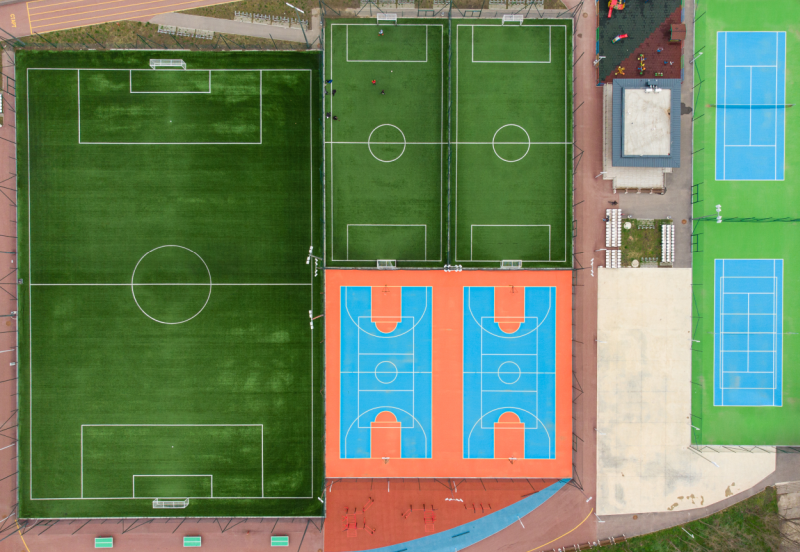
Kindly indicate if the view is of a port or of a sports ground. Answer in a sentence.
What you see here is a sports ground.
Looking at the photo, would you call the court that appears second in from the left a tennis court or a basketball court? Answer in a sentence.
The court that appears second in from the left is a basketball court.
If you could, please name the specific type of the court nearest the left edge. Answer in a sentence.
It looks like the court nearest the left edge is a basketball court.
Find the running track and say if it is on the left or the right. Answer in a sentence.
The running track appears in the left half of the scene.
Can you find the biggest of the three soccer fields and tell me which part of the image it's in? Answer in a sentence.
The biggest of the three soccer fields is in the left part of the image.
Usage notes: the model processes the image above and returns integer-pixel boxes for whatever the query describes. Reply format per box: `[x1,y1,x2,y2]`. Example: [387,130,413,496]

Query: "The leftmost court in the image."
[326,269,448,479]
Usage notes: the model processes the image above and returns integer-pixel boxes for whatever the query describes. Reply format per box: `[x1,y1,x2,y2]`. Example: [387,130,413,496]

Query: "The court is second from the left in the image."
[448,269,573,479]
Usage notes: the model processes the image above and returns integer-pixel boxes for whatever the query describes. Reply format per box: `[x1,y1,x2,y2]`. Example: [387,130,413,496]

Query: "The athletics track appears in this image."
[0,0,252,42]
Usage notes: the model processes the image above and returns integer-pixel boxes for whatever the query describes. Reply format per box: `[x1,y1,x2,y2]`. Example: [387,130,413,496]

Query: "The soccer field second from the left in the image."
[326,19,446,267]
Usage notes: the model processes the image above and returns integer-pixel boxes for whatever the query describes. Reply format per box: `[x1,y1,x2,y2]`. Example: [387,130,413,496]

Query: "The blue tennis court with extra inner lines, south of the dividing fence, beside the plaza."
[693,219,800,445]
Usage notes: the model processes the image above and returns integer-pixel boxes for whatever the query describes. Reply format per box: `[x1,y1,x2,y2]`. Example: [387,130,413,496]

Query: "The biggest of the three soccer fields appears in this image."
[16,51,324,518]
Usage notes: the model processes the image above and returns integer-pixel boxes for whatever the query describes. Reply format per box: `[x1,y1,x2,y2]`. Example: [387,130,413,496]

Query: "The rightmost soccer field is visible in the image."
[449,19,573,267]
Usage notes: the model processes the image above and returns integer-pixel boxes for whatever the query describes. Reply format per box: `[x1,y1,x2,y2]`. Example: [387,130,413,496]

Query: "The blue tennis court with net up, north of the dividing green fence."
[693,0,800,219]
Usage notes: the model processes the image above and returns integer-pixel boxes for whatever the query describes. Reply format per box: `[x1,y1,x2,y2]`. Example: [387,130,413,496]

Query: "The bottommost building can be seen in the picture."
[598,78,680,194]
